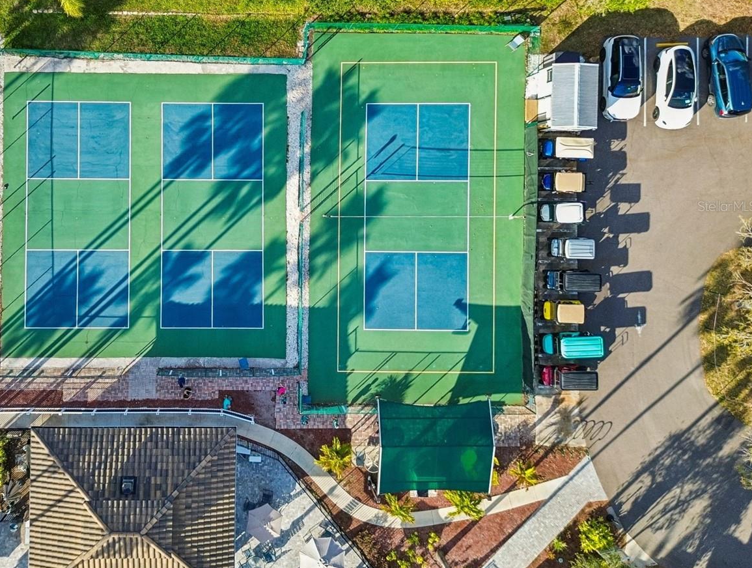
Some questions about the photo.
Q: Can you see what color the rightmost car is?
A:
blue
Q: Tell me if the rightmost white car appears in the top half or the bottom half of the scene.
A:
top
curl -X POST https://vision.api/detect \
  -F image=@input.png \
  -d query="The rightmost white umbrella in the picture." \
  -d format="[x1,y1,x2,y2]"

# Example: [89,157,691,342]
[298,532,344,568]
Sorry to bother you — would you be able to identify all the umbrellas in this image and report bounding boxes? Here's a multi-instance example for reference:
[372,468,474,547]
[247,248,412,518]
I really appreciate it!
[2,473,28,502]
[245,499,282,536]
[298,532,344,568]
